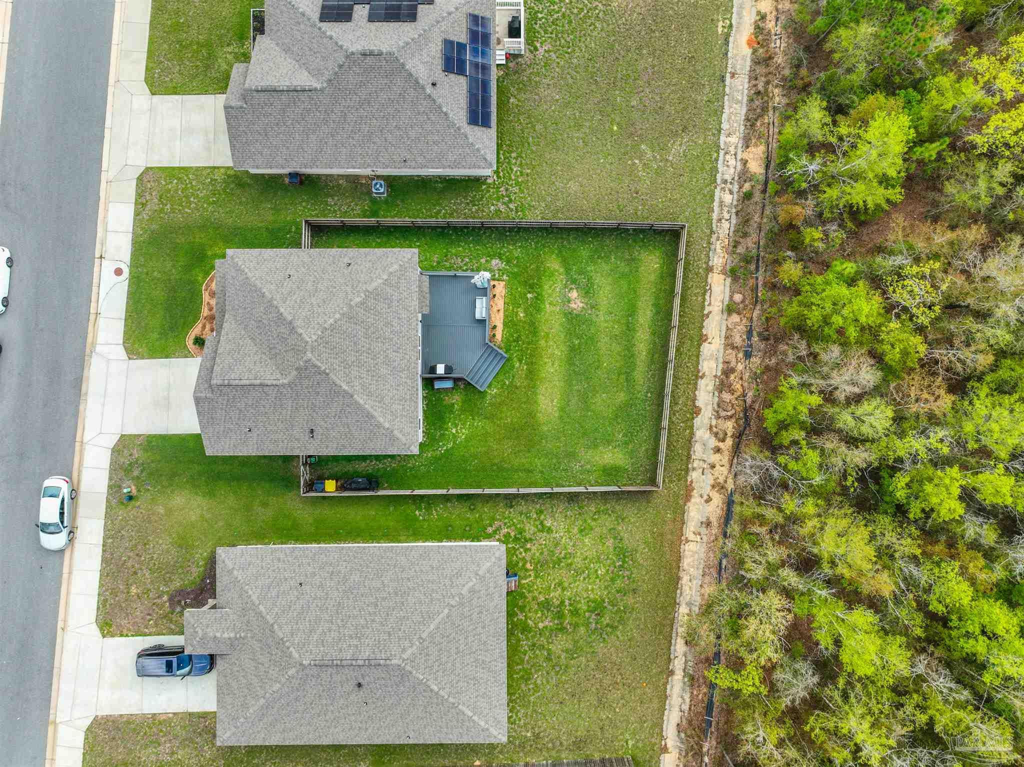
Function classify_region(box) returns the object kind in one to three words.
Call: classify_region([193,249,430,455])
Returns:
house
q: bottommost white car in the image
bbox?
[35,473,80,549]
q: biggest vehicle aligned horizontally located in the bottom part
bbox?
[134,640,216,681]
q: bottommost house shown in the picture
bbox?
[184,542,506,745]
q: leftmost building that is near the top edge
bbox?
[222,0,496,176]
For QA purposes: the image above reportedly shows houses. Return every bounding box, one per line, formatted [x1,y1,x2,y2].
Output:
[184,542,506,745]
[193,249,430,455]
[222,0,496,176]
